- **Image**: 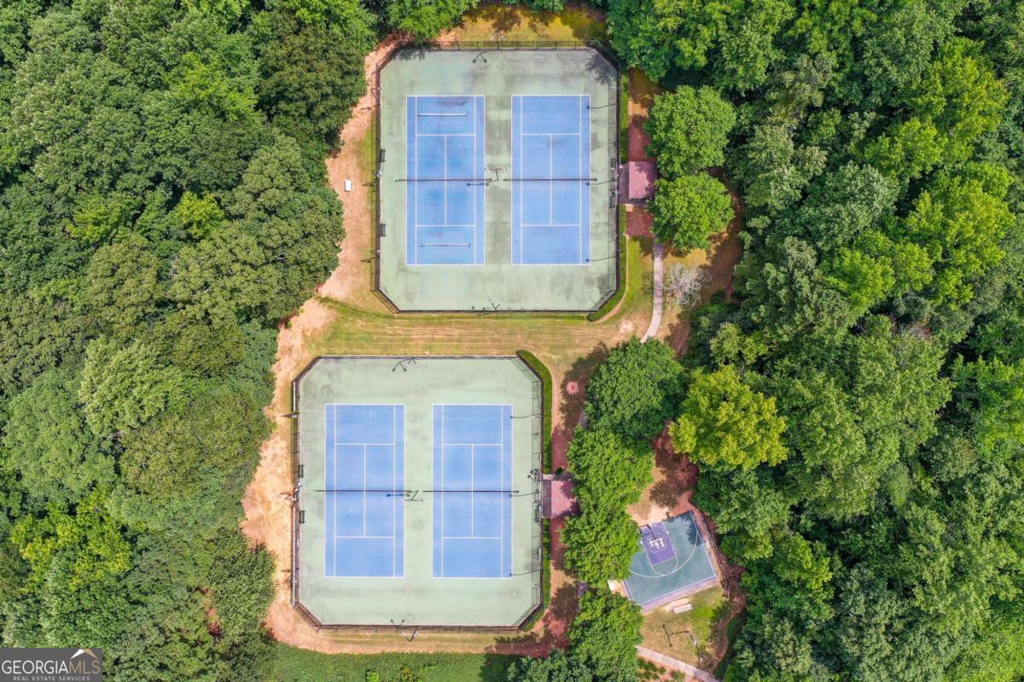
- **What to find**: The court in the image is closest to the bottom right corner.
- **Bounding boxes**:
[609,507,721,612]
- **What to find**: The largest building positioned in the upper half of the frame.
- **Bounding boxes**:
[627,161,658,200]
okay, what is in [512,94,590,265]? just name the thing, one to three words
tennis court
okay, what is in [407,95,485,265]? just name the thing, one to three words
tennis court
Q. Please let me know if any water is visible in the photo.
No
